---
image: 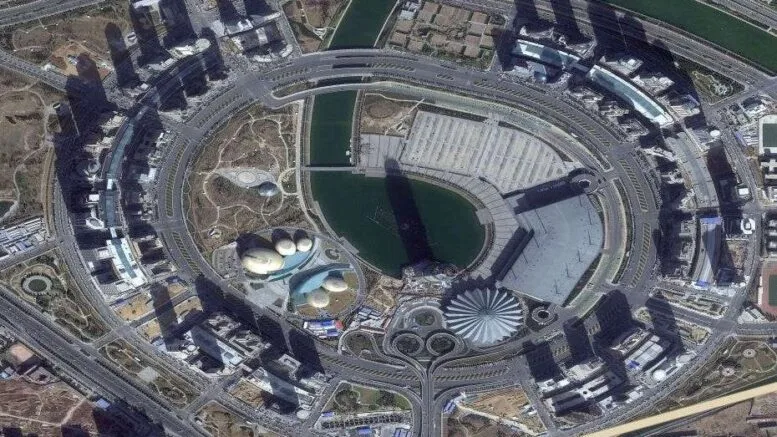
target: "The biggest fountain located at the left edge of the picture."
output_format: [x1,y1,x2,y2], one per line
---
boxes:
[27,278,47,291]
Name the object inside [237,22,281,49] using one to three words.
building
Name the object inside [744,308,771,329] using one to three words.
building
